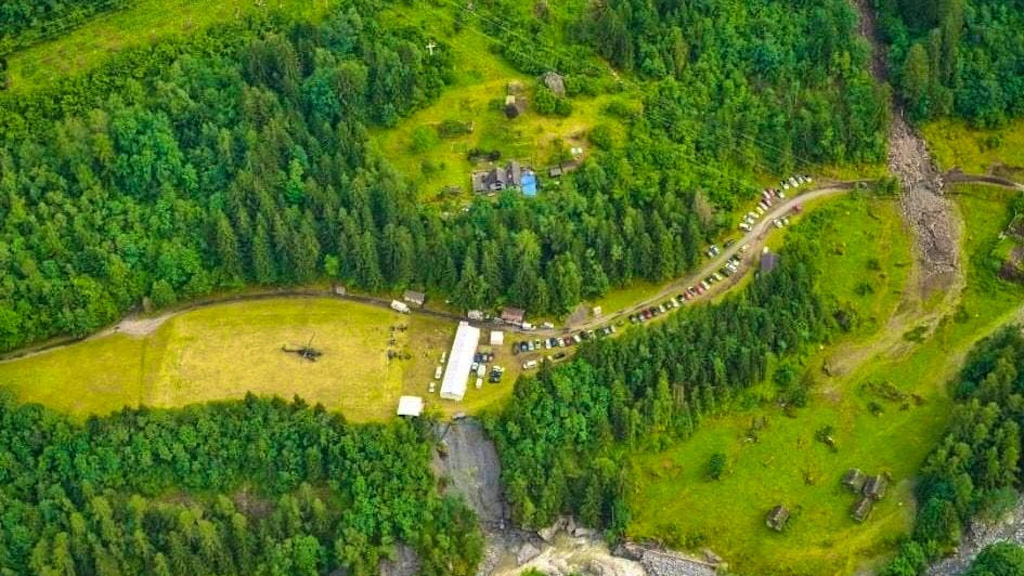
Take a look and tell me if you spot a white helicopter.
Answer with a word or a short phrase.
No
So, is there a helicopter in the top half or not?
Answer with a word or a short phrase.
No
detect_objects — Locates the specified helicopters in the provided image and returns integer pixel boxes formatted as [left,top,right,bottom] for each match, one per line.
[276,331,329,366]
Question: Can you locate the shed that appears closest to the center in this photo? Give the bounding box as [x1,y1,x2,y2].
[502,308,525,325]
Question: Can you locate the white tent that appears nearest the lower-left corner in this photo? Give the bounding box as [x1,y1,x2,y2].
[397,397,422,418]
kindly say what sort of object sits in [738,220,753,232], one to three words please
vehicle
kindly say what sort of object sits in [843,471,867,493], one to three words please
shed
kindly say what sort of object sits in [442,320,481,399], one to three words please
tent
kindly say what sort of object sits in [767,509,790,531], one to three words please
shed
